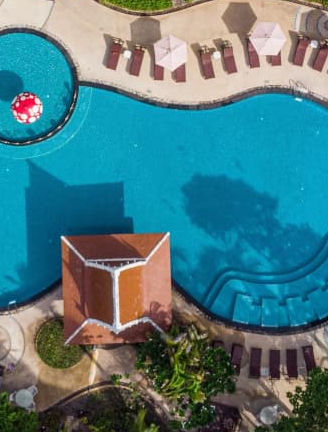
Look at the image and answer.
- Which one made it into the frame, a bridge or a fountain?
fountain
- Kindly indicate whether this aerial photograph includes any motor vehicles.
No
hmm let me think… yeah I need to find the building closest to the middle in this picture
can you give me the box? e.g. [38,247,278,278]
[59,229,174,346]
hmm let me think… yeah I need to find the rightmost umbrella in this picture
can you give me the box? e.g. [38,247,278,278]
[248,22,284,54]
